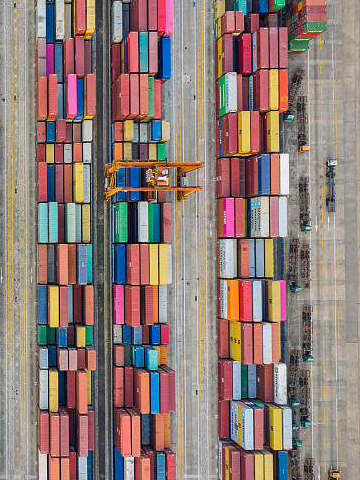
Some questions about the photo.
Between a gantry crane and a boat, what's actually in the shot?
gantry crane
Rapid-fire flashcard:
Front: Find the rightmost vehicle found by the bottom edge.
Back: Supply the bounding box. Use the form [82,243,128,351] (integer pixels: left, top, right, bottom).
[327,467,340,480]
